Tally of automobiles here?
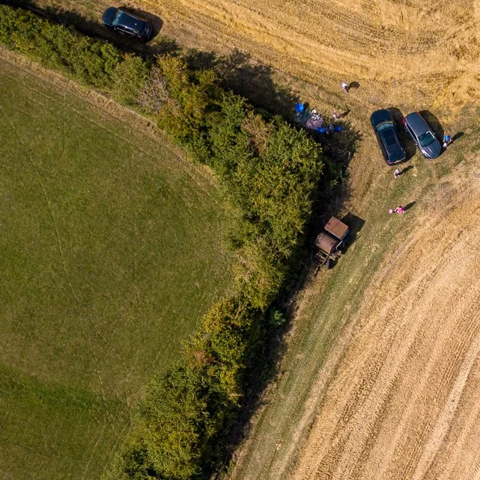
3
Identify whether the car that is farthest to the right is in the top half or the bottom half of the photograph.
top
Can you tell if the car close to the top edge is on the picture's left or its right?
left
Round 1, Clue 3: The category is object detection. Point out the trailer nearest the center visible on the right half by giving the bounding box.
[312,217,350,277]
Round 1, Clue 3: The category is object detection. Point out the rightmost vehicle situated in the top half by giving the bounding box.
[405,110,444,160]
